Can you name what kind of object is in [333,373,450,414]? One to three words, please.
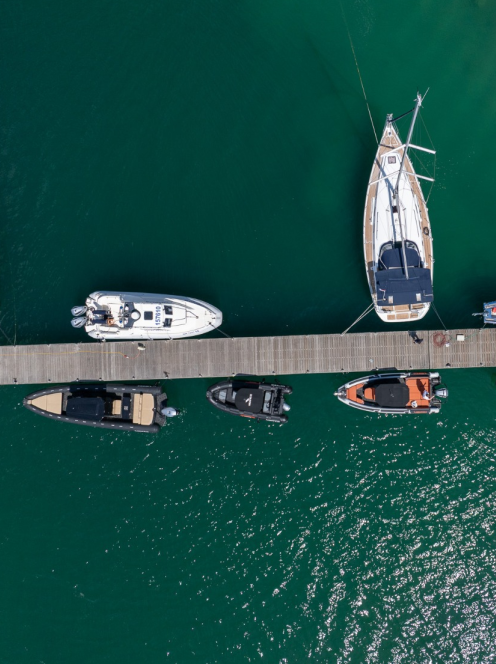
boat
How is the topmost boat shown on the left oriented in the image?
from left to right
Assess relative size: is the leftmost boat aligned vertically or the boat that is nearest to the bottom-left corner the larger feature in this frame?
the leftmost boat aligned vertically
